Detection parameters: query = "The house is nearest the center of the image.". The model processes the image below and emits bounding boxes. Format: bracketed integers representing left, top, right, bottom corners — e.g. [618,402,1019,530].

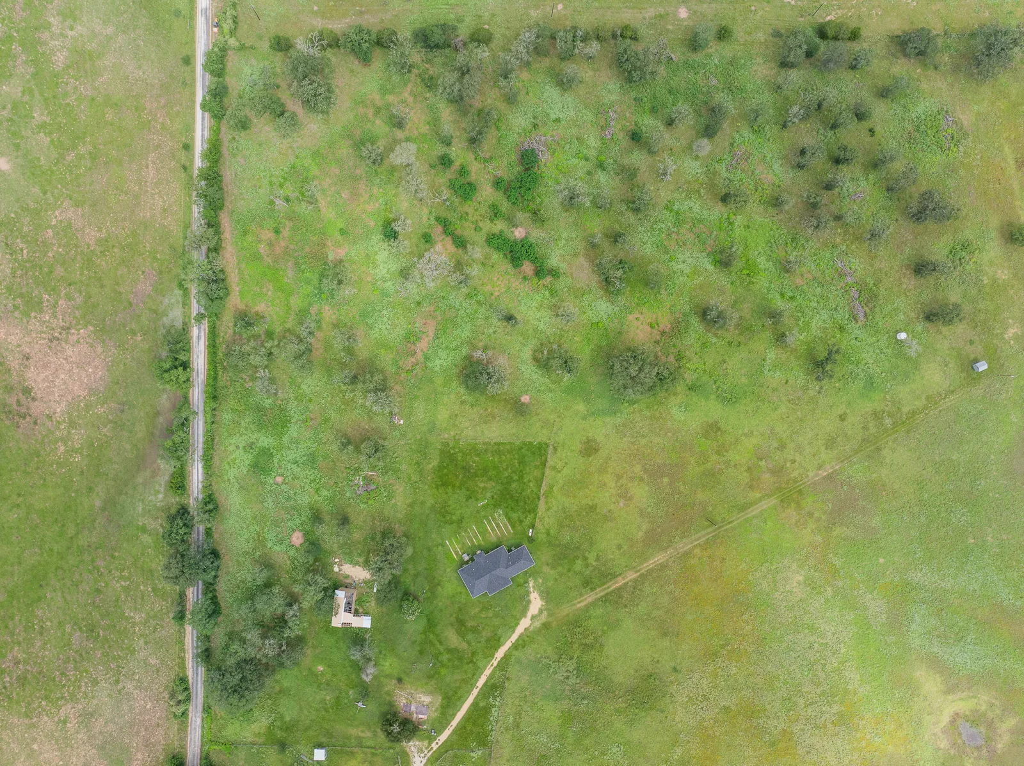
[457,544,536,599]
